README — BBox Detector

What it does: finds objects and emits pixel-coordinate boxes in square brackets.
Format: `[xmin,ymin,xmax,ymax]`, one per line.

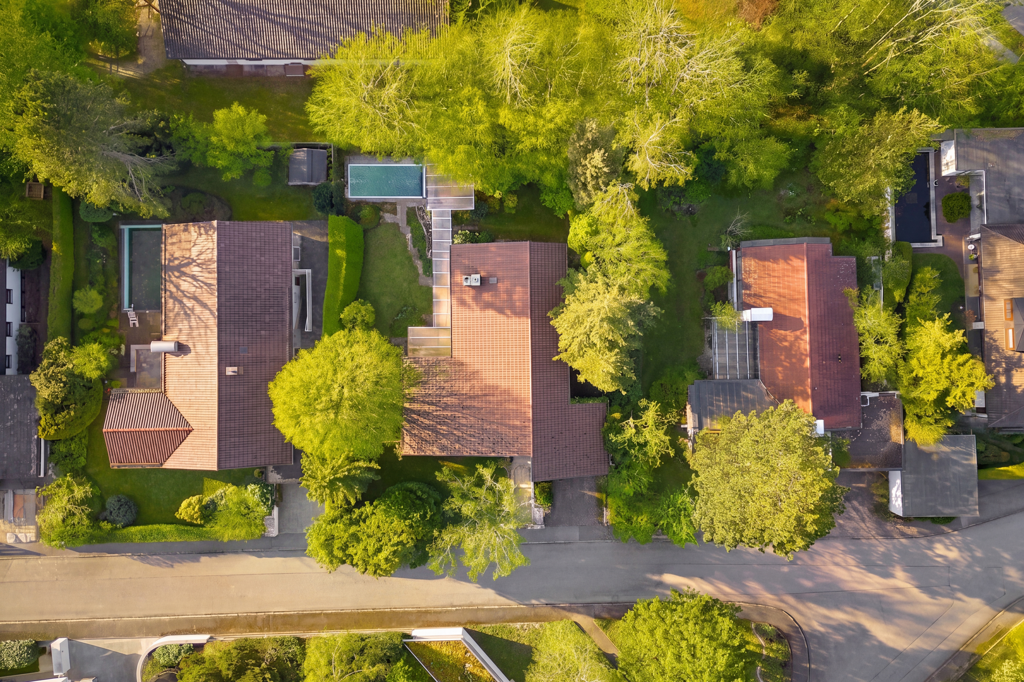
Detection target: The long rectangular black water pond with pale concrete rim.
[893,146,944,246]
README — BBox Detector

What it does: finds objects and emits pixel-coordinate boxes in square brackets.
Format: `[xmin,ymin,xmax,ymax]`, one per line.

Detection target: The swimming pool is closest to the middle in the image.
[347,162,426,199]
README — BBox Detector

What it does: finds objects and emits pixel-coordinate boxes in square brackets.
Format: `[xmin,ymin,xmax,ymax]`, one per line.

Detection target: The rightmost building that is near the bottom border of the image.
[403,625,513,682]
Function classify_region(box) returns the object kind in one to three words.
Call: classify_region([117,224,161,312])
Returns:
swimming pool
